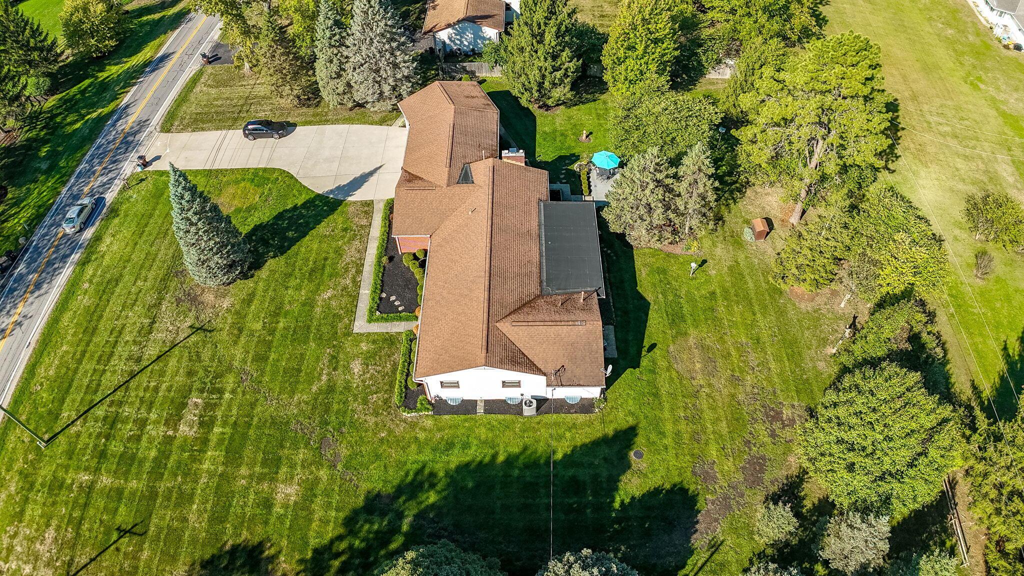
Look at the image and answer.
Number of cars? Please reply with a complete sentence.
The count of cars comes to 2.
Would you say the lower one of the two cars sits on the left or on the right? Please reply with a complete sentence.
It is on the left.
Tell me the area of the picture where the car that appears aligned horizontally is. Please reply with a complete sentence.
The car that appears aligned horizontally is located in the top left region of the scene.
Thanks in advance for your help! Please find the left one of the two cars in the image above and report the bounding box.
[52,192,96,233]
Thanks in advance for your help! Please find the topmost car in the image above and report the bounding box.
[237,117,286,140]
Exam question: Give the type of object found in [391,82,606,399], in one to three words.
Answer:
house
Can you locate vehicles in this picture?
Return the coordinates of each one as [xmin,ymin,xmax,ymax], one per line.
[52,192,96,233]
[237,117,286,140]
